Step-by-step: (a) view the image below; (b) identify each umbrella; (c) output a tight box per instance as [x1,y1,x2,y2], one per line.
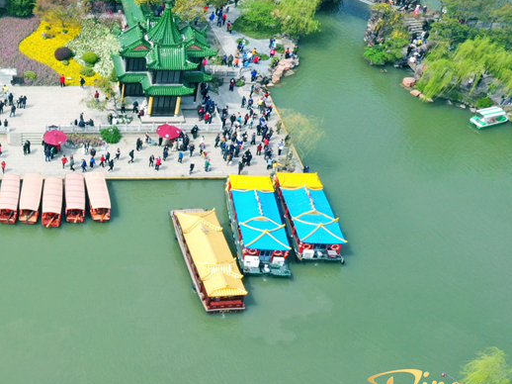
[154,124,183,151]
[39,129,68,154]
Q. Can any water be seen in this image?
Yes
